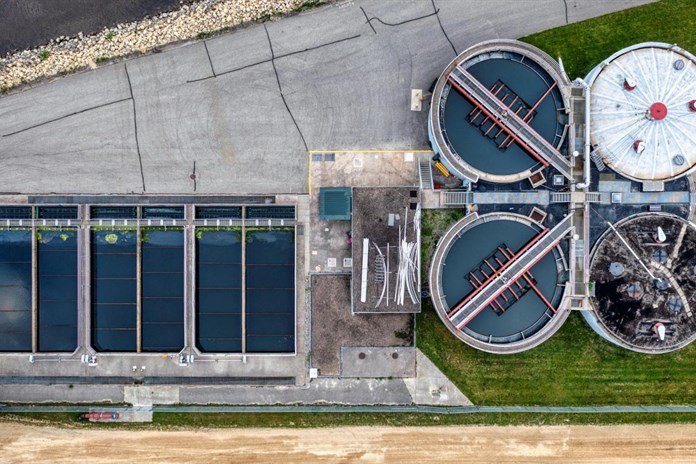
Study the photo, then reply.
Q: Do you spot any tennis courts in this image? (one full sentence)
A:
No, the scene contains no tennis court.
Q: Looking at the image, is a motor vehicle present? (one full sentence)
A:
No, no motor vehicle is visible in the scene.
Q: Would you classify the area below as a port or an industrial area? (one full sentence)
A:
The area seen from above is an industrial area.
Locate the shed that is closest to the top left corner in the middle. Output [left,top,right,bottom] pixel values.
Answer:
[320,187,351,220]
